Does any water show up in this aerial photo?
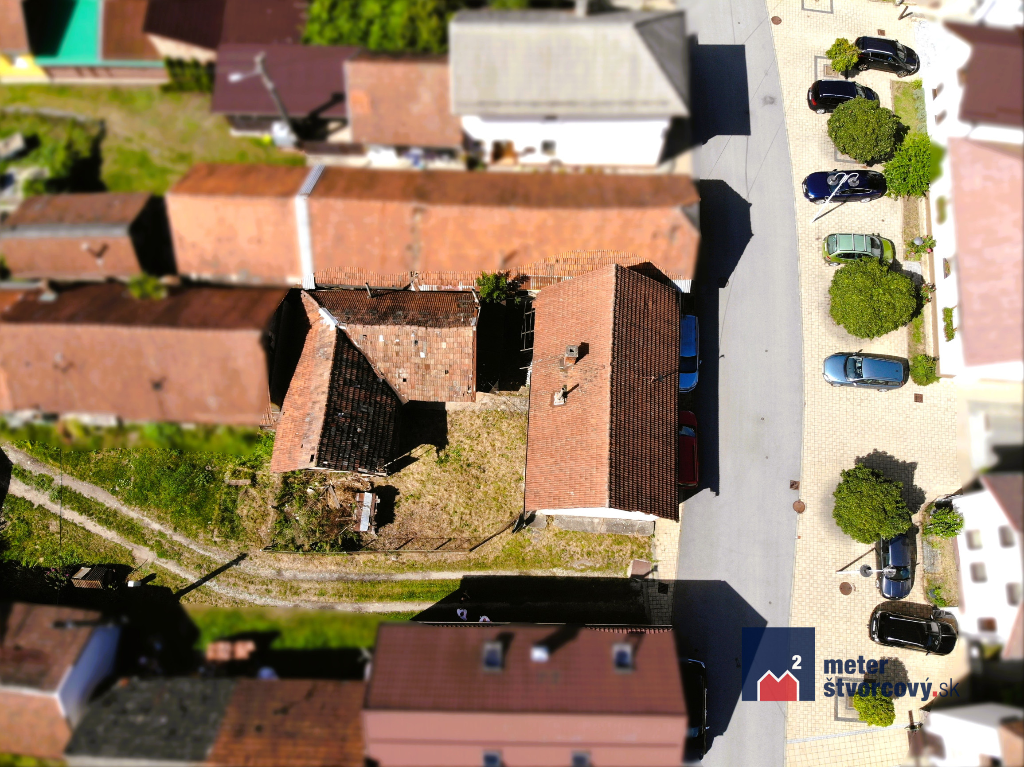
No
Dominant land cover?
buildings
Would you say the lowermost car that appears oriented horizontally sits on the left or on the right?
right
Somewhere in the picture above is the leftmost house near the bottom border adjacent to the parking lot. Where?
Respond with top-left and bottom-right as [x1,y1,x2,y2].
[356,621,694,767]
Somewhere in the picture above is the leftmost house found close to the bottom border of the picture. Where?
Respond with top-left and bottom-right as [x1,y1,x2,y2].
[0,603,139,760]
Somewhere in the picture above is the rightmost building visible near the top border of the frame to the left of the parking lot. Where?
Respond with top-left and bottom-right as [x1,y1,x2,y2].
[451,9,690,172]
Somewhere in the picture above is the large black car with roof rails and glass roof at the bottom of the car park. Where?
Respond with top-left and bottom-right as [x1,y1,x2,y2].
[868,605,963,657]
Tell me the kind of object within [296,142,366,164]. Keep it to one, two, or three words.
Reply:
shed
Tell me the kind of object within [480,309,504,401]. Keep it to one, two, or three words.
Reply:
shed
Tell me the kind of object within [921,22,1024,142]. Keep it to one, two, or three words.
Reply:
house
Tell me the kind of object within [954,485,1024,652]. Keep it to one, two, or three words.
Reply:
house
